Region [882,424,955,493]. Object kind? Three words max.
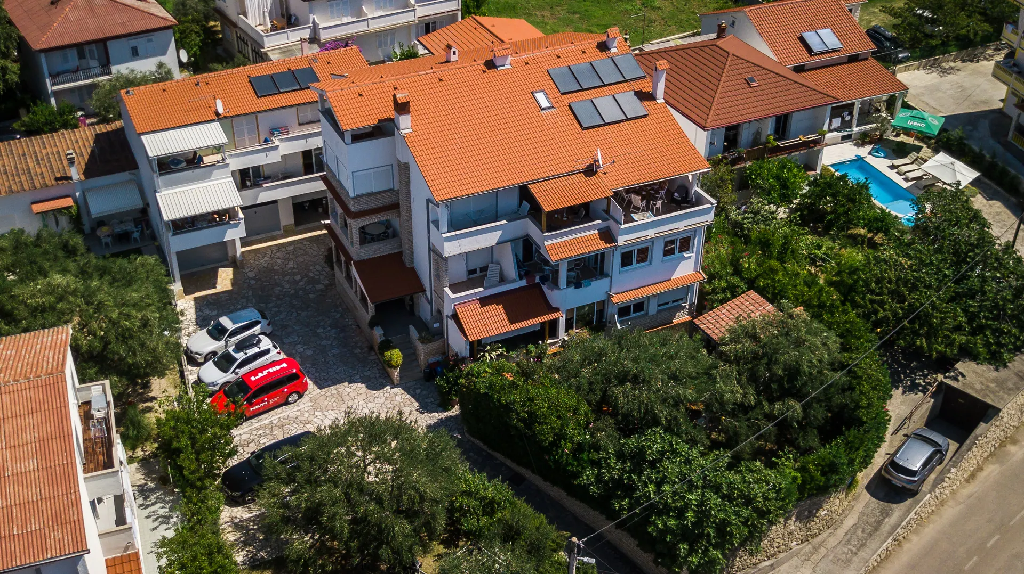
car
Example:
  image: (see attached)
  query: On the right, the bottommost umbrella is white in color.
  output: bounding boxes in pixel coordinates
[916,154,987,199]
